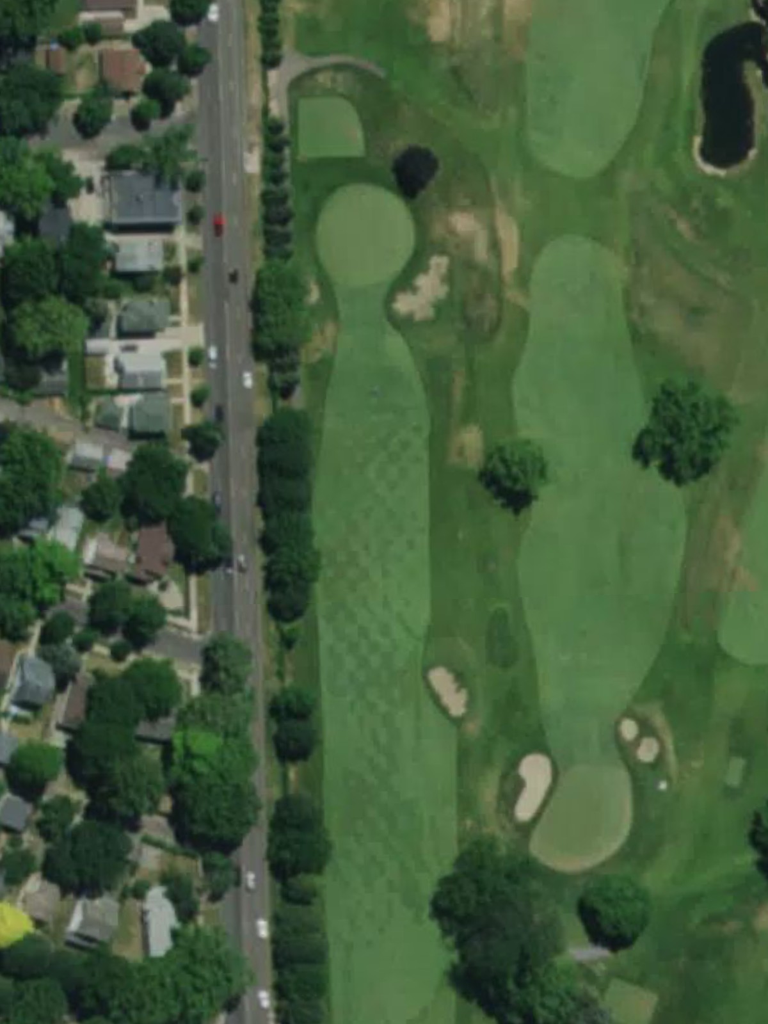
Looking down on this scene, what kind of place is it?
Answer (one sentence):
The picture captures a golf course.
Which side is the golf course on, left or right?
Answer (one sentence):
The golf course is on the right side of the image.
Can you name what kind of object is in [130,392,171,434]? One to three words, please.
house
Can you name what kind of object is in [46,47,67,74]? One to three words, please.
shed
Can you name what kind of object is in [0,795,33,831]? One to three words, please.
building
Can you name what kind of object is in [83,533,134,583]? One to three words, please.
house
